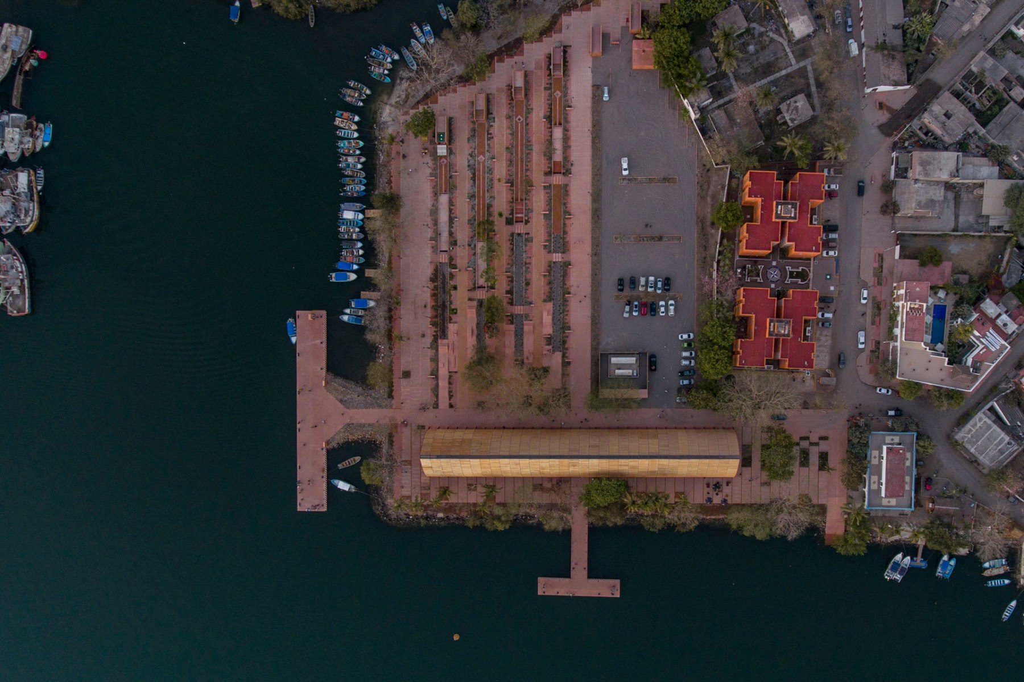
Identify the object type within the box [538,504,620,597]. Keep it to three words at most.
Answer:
pier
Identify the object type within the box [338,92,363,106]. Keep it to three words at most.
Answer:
boat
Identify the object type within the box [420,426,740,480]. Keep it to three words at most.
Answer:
building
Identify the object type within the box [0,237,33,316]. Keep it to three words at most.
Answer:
boat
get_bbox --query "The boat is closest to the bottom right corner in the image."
[1000,601,1017,623]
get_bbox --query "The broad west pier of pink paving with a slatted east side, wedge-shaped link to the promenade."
[297,311,392,511]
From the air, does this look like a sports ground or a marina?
marina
